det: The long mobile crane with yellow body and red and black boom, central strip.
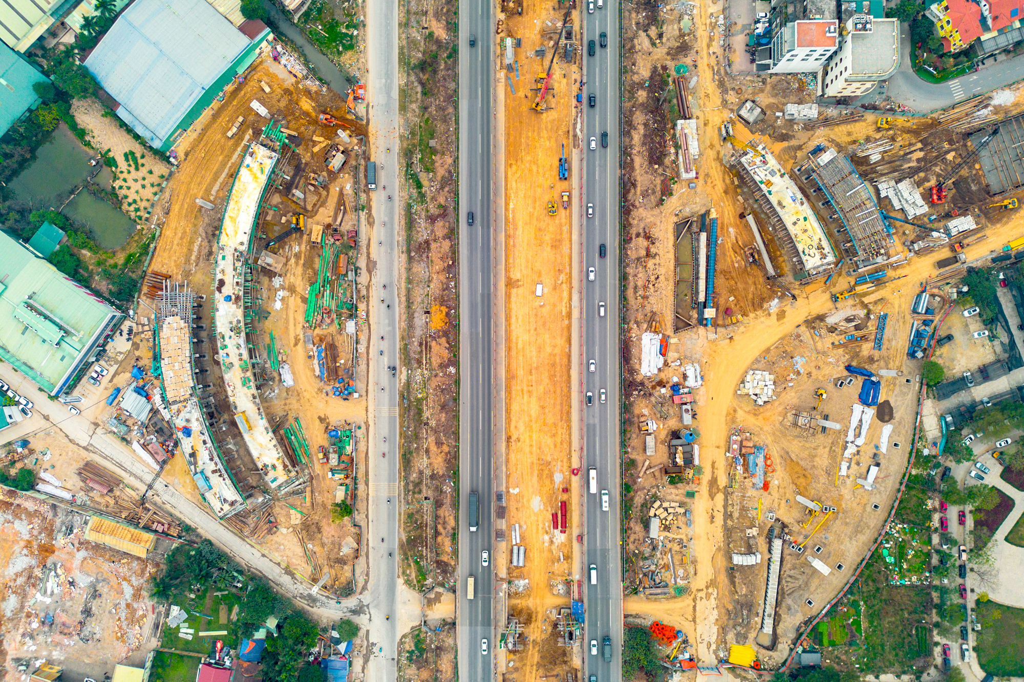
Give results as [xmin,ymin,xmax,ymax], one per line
[530,1,572,114]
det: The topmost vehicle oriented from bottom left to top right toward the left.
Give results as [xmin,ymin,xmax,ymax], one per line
[346,83,370,118]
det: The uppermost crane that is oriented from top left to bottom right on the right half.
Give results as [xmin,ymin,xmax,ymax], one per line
[715,122,766,167]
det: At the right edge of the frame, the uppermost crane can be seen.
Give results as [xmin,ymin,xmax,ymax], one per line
[924,126,1001,206]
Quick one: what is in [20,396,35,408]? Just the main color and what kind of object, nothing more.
white vehicle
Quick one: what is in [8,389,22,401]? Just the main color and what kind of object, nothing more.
white vehicle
